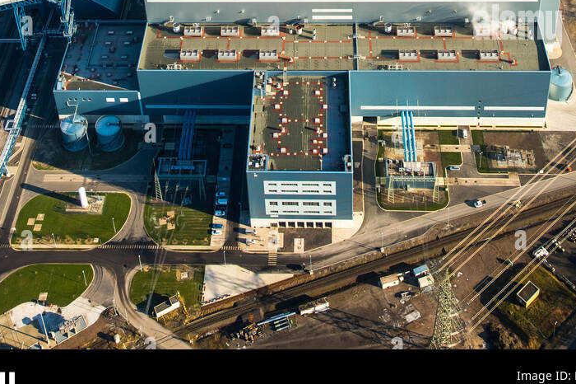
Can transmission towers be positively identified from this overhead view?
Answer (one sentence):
Yes, there's a transmission tower down there.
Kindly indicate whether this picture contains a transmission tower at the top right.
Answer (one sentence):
No, the scene shows no transmission tower at the top right.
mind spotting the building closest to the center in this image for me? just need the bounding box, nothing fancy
[247,74,352,225]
